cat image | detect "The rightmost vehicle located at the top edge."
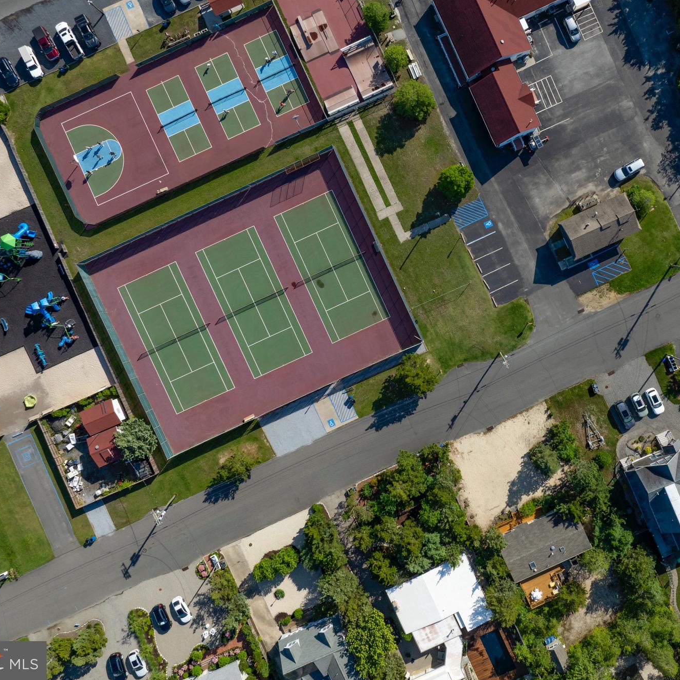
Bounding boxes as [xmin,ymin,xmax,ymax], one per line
[560,14,582,44]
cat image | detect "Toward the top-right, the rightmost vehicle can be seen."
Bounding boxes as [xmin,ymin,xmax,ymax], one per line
[614,160,643,181]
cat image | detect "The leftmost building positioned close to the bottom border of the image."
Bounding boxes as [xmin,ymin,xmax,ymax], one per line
[195,653,254,680]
